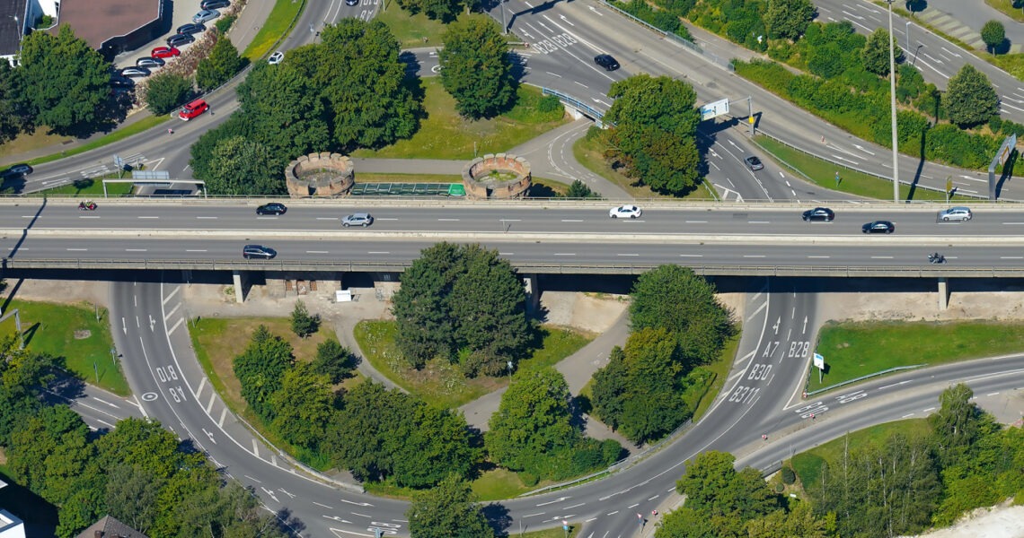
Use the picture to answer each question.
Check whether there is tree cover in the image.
Yes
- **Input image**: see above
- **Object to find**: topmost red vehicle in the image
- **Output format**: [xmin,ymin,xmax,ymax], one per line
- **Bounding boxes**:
[153,46,180,58]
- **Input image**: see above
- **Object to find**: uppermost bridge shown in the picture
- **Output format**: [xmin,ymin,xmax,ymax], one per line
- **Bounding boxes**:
[538,85,611,138]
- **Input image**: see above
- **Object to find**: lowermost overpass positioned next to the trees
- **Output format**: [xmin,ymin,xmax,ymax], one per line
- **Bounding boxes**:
[0,192,1024,311]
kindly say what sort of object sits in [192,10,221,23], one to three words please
vehicle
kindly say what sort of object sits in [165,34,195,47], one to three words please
vehicle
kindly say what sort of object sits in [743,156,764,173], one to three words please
car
